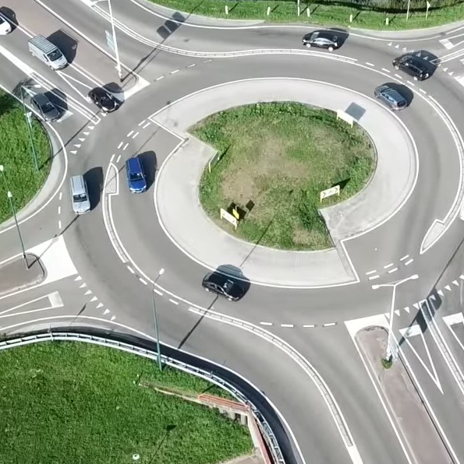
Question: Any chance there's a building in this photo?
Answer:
No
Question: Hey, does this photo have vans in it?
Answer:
Yes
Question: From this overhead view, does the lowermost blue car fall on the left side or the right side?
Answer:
left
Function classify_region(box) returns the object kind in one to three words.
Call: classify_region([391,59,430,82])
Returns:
car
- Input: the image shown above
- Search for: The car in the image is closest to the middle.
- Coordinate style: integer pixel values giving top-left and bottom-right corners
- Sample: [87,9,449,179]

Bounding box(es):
[198,274,244,305]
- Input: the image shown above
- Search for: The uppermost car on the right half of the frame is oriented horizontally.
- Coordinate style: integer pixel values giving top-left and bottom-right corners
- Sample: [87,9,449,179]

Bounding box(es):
[303,35,339,53]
